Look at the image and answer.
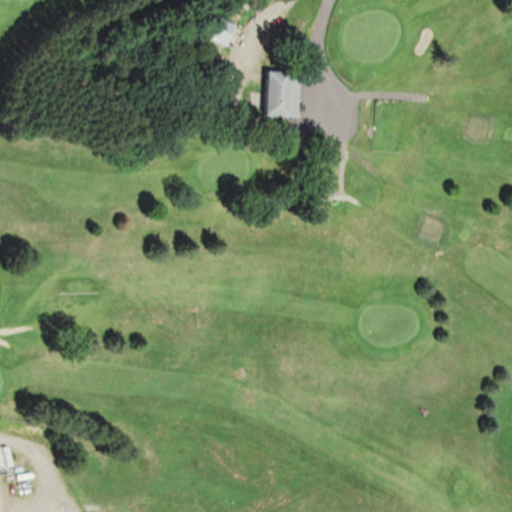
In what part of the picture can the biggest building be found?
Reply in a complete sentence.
The biggest building is located in the top region of the scene.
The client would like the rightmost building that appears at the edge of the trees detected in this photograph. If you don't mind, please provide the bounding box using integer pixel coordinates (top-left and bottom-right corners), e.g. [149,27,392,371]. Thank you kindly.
[267,71,300,119]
